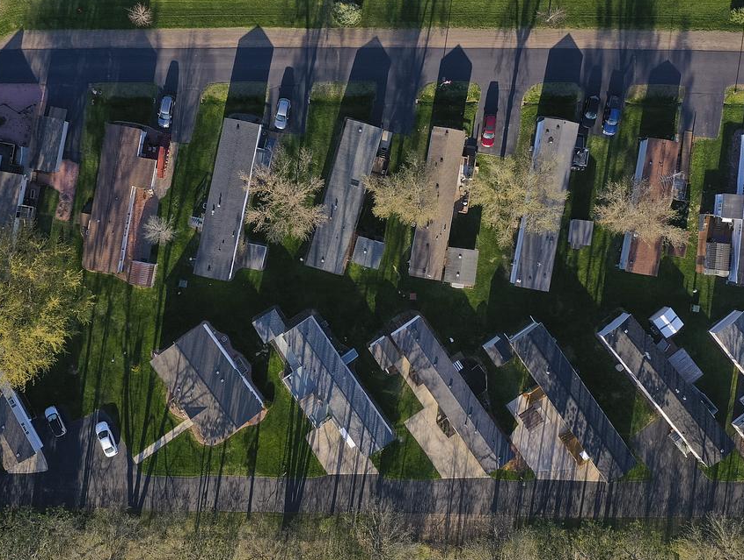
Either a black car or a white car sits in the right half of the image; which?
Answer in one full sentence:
Visible in the right half of the image is a black car.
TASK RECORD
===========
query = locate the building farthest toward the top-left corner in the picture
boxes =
[35,106,72,172]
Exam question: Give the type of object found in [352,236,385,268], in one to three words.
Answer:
shed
